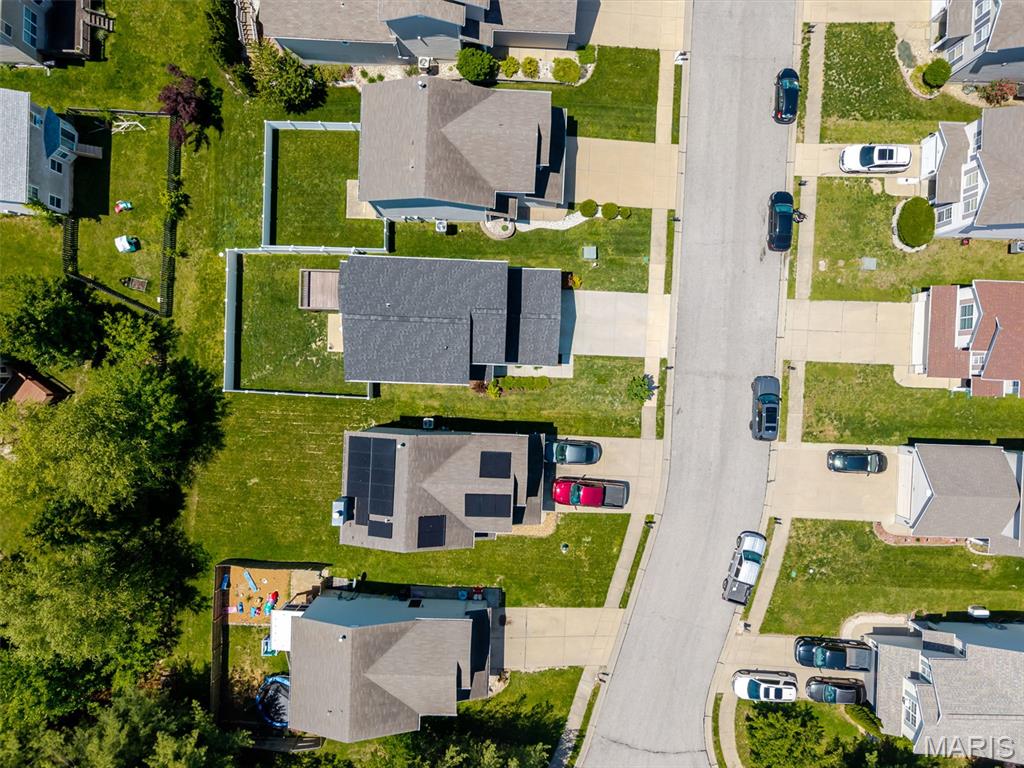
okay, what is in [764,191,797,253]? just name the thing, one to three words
car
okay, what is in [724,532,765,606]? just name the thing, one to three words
truck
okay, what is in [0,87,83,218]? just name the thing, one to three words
house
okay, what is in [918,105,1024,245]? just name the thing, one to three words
house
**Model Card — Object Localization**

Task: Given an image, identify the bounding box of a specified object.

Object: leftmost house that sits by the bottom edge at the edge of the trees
[288,599,492,745]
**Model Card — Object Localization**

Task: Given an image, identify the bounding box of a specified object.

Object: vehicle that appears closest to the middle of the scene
[545,438,602,466]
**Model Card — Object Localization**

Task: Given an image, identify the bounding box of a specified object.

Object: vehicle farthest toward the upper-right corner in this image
[838,142,911,175]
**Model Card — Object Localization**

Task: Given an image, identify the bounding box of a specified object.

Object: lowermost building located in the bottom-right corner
[863,619,1024,761]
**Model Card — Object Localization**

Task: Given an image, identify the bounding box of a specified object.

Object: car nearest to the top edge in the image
[771,69,802,127]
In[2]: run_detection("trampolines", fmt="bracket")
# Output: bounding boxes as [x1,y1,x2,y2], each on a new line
[251,674,294,735]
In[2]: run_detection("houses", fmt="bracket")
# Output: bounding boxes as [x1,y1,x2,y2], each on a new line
[0,0,45,78]
[918,105,1024,245]
[863,619,1024,761]
[928,0,1024,87]
[911,280,1024,399]
[331,426,546,554]
[357,72,567,224]
[288,599,492,745]
[0,87,83,218]
[256,0,578,70]
[894,443,1024,563]
[335,255,561,389]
